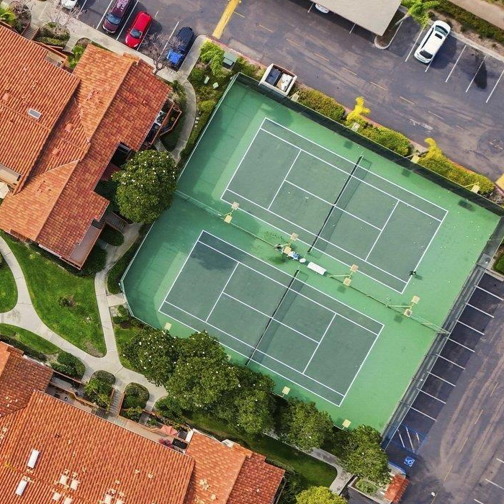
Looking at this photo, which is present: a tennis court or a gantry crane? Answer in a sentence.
Looking from above, you can make out a tennis court.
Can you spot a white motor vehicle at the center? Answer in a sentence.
No, no white motor vehicle can be made out at the center.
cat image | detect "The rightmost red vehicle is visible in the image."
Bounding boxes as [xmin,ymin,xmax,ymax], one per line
[123,10,154,51]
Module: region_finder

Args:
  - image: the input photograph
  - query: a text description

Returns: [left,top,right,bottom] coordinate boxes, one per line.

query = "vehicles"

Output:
[58,0,79,12]
[413,21,449,66]
[312,4,328,17]
[123,10,154,51]
[100,0,134,36]
[165,24,199,72]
